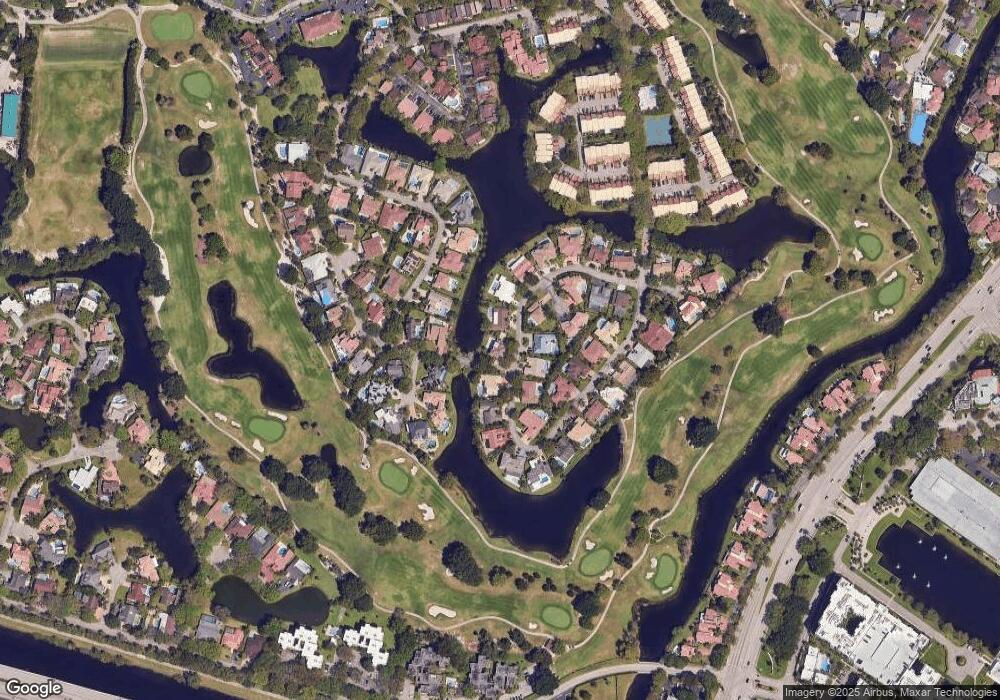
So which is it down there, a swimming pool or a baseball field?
swimming pool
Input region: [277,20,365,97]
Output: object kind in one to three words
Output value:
pond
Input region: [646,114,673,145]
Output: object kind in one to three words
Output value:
tennis court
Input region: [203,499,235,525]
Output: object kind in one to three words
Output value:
house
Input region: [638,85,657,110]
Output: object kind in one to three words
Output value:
swimming pool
